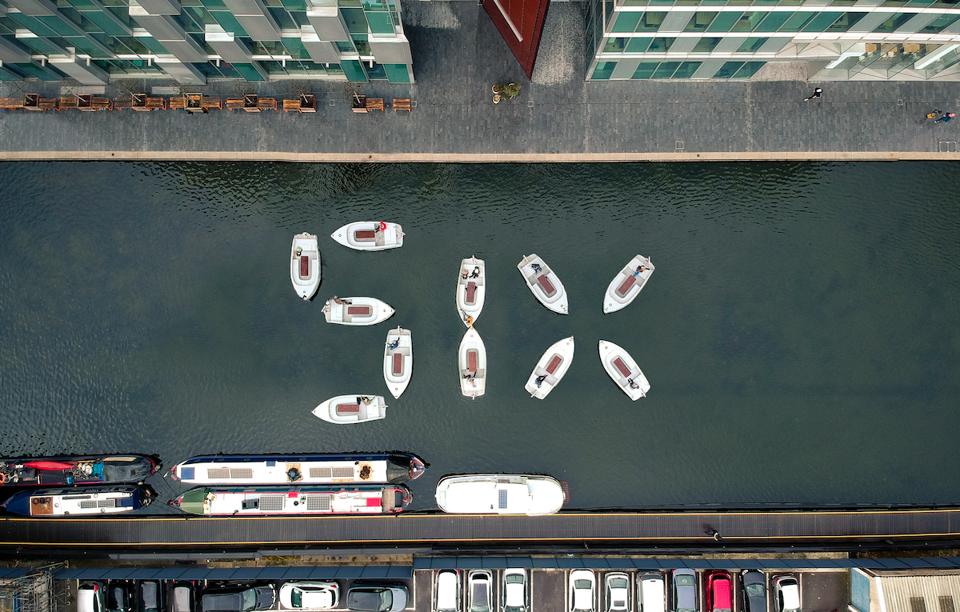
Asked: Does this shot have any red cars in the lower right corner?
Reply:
Yes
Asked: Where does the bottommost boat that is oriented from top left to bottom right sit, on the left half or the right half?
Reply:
right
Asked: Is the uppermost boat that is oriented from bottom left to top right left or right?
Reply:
right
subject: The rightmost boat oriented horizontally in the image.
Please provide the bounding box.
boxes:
[434,472,569,517]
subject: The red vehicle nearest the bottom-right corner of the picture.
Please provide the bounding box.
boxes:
[704,569,737,612]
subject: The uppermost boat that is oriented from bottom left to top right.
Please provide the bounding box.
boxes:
[603,254,654,314]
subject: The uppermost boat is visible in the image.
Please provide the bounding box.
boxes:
[332,221,406,250]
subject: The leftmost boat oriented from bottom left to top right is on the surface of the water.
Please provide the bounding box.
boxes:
[526,336,575,399]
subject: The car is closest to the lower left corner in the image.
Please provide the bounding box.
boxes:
[75,579,107,612]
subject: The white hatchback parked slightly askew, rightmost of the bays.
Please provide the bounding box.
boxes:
[770,571,804,612]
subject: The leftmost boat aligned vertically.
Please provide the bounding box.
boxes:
[292,230,321,301]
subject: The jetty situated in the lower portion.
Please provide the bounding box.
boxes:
[0,506,960,550]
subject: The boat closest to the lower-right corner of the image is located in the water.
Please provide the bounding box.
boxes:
[599,339,651,401]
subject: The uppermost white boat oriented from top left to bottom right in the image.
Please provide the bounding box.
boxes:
[518,254,569,315]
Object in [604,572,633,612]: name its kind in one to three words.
car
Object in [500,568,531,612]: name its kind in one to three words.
car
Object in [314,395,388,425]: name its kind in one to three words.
boat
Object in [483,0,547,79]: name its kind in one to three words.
building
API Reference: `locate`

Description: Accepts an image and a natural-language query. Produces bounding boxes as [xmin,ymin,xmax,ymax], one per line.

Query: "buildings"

[587,0,960,82]
[483,0,547,79]
[837,570,960,612]
[0,0,419,85]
